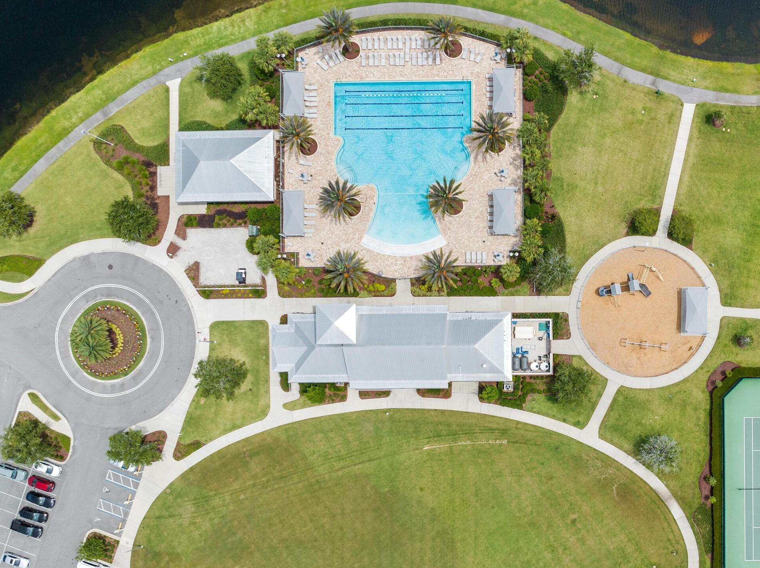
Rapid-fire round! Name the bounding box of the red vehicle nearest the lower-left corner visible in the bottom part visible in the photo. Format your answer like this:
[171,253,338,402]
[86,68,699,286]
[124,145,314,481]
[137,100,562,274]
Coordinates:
[29,474,59,493]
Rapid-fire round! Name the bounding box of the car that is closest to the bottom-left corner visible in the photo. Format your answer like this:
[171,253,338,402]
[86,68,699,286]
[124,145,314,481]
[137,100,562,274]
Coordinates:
[0,551,34,568]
